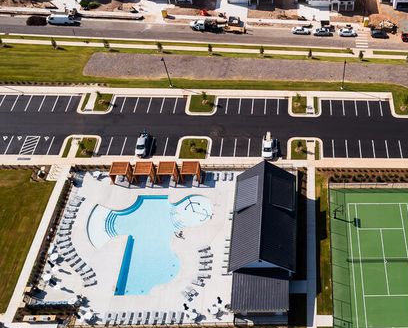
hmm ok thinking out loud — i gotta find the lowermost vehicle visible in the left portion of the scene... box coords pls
[134,130,151,154]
